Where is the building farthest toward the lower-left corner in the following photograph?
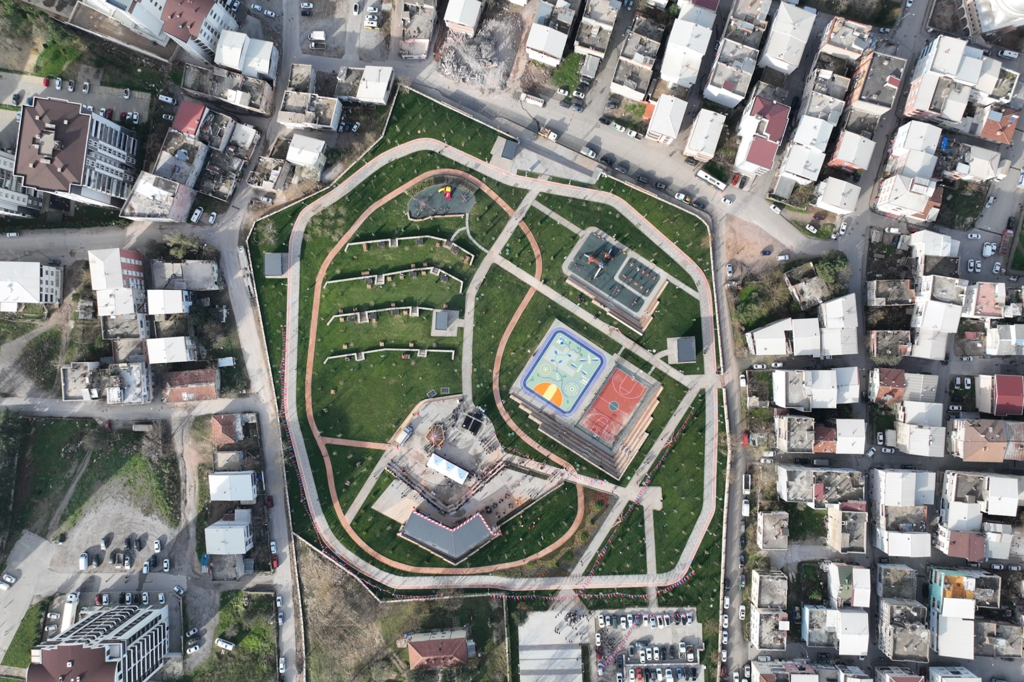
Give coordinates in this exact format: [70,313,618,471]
[25,607,170,682]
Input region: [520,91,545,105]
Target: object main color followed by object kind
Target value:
white vehicle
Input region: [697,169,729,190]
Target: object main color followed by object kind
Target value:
white bus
